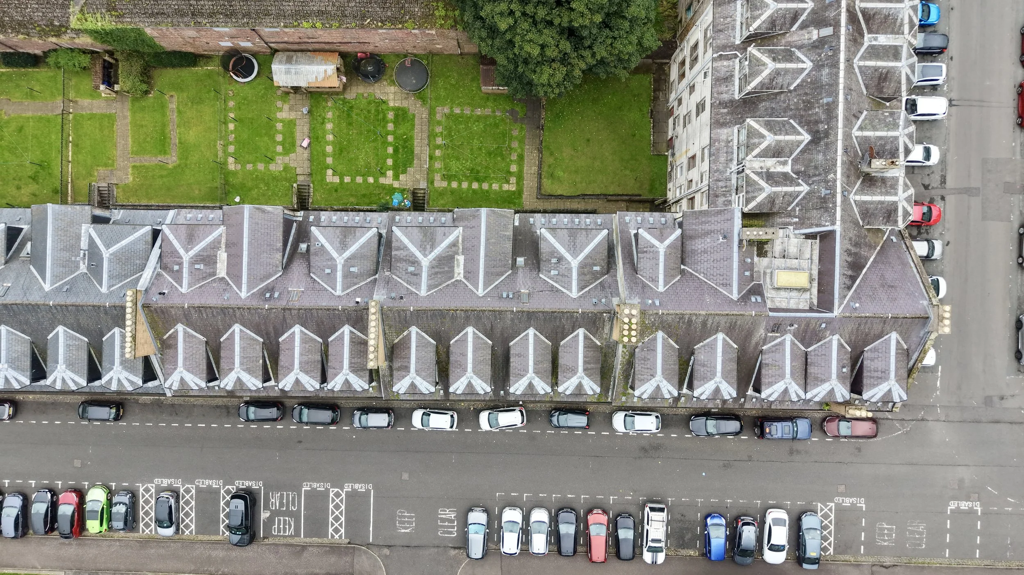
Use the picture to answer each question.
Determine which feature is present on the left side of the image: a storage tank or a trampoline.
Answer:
trampoline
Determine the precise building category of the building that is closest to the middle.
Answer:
residential house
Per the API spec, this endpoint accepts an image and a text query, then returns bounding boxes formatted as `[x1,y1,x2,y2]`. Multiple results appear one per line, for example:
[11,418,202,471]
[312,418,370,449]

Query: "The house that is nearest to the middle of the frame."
[380,209,619,409]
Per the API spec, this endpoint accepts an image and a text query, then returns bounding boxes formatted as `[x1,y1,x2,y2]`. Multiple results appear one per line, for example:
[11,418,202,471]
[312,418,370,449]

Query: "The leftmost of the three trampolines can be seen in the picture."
[220,46,258,83]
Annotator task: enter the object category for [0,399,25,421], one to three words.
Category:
car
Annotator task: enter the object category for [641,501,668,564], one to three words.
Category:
truck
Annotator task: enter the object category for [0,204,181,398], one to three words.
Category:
house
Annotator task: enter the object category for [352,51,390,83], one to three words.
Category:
trampoline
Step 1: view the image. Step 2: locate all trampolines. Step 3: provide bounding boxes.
[393,57,430,93]
[220,46,258,83]
[352,51,390,83]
